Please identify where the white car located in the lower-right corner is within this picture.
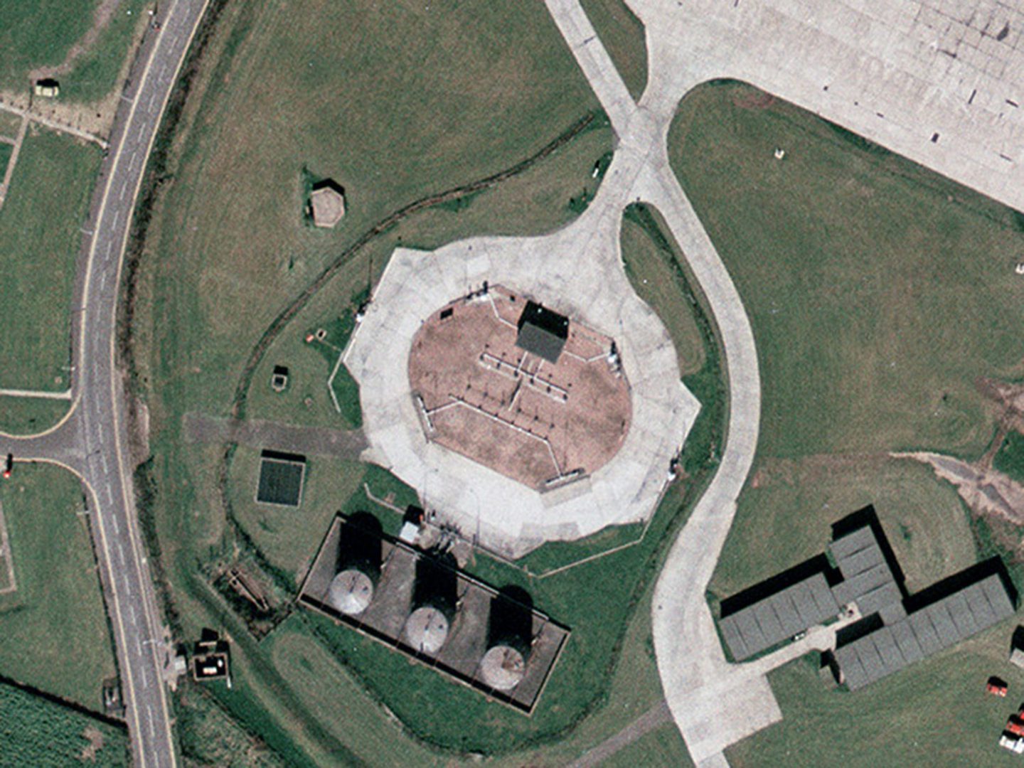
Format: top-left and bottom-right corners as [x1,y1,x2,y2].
[1001,735,1024,755]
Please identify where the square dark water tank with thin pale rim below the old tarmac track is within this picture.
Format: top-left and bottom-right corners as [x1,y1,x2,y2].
[257,454,307,506]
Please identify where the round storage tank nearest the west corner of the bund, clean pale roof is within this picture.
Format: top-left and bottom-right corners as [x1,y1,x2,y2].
[329,536,384,615]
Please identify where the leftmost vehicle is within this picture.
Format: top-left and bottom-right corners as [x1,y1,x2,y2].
[35,85,59,98]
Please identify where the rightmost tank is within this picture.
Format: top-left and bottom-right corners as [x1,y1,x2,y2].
[481,610,534,690]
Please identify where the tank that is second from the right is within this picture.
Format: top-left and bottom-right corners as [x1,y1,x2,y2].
[405,573,459,653]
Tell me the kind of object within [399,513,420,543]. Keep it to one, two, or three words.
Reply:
shed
